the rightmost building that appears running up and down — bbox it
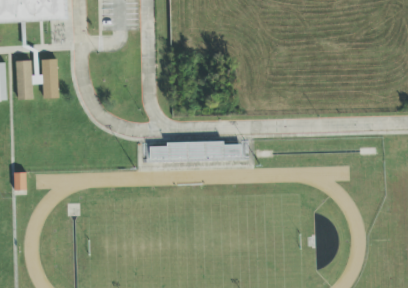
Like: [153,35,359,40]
[41,59,59,100]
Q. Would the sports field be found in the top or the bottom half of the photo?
bottom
